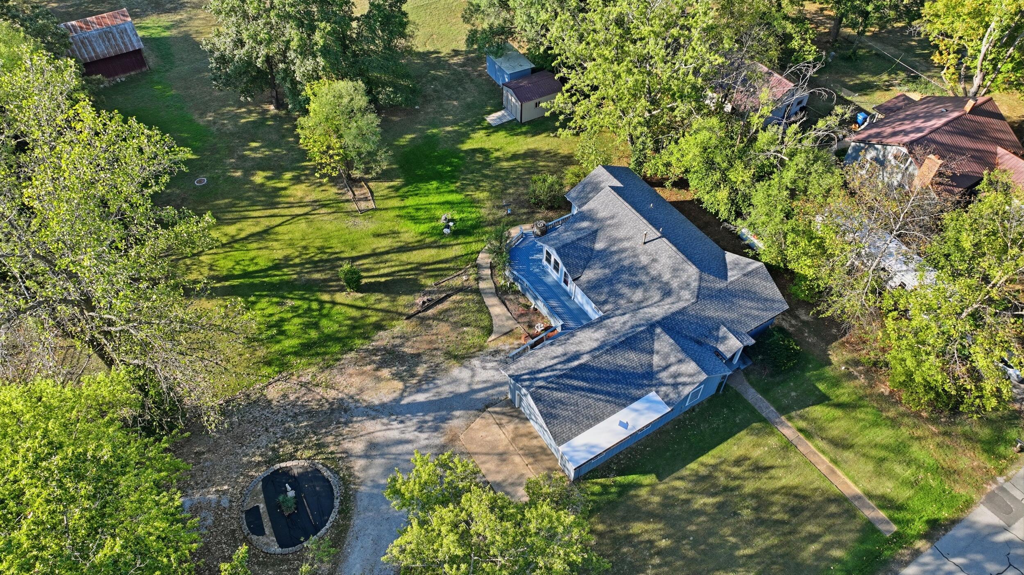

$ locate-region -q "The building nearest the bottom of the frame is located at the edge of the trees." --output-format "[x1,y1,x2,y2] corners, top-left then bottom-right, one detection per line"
[500,165,790,482]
